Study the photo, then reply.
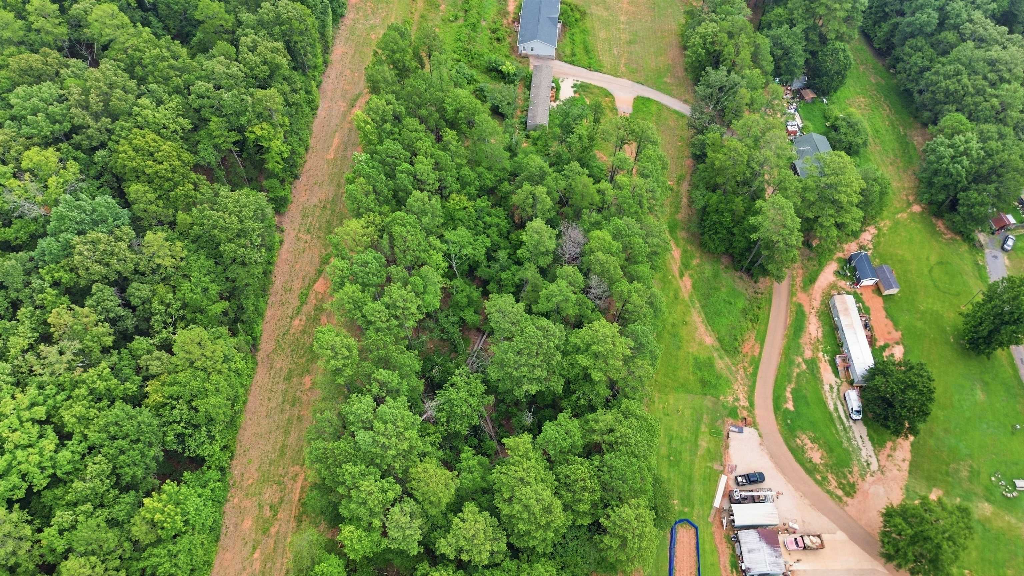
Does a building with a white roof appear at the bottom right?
Yes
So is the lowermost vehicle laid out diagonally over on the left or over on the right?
right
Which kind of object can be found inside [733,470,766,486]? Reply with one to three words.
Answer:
vehicle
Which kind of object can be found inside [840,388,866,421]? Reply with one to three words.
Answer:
vehicle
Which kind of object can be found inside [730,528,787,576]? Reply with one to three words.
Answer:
building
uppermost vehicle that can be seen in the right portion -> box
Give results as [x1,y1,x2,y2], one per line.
[1002,234,1015,254]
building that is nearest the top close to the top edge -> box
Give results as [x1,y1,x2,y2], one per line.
[514,0,564,56]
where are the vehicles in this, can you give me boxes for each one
[840,388,866,421]
[730,488,781,504]
[782,534,827,551]
[733,470,766,486]
[1002,234,1015,254]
